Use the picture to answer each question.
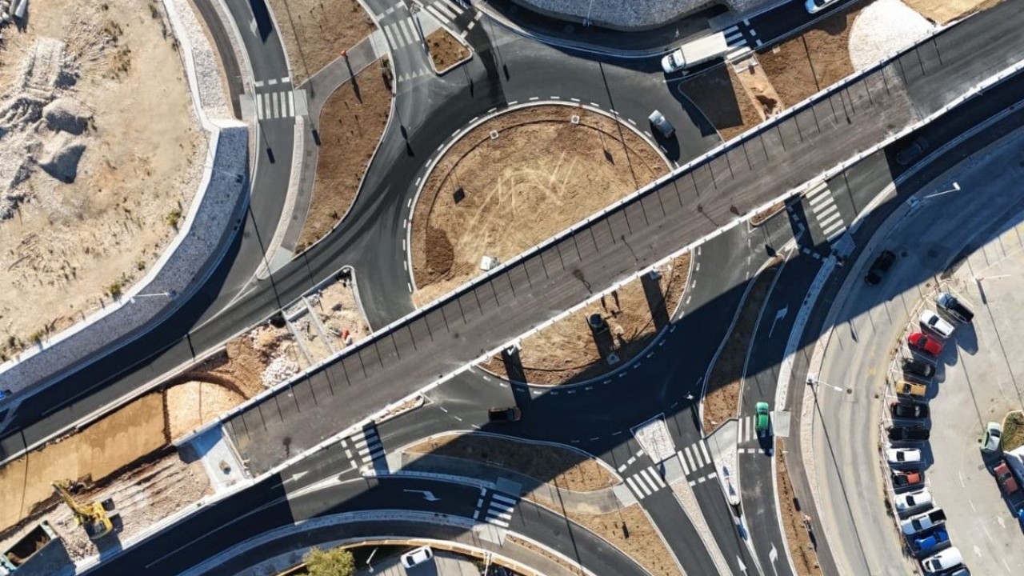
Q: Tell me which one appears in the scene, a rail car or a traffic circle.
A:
traffic circle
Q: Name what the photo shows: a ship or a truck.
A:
truck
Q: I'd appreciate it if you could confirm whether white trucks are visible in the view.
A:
Yes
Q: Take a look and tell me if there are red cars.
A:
Yes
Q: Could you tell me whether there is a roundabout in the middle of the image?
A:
Yes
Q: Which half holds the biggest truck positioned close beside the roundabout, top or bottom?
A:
top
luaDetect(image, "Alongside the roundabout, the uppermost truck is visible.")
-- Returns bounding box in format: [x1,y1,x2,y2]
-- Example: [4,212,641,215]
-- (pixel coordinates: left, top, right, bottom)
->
[659,25,732,71]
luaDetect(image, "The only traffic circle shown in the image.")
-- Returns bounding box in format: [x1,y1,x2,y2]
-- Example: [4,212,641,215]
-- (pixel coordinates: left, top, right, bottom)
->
[380,72,722,414]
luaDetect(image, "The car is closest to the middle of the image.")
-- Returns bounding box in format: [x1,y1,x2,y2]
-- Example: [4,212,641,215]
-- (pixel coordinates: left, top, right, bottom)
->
[488,405,521,422]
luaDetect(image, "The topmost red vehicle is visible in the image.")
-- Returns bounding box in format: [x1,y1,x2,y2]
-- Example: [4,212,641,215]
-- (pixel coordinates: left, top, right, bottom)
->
[906,332,943,357]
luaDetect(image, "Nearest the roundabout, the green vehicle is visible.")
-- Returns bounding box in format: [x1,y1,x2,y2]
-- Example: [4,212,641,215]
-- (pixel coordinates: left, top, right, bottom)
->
[753,400,770,431]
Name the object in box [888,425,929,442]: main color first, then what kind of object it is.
black car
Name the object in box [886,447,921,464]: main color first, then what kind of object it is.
white car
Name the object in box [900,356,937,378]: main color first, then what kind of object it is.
black car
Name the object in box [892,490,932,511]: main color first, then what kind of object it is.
white car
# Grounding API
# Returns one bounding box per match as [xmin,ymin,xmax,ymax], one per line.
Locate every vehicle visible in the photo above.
[941,563,982,576]
[804,0,842,15]
[886,447,921,464]
[491,556,510,576]
[753,400,770,431]
[933,292,976,325]
[51,479,123,545]
[400,545,433,568]
[906,332,943,357]
[648,109,675,140]
[900,356,937,378]
[890,469,923,488]
[980,420,1003,452]
[920,547,966,573]
[659,25,732,71]
[912,529,950,551]
[899,507,948,534]
[488,405,521,422]
[892,490,932,511]
[888,425,929,442]
[0,514,70,576]
[861,249,897,285]
[889,401,929,419]
[917,309,955,338]
[894,380,927,396]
